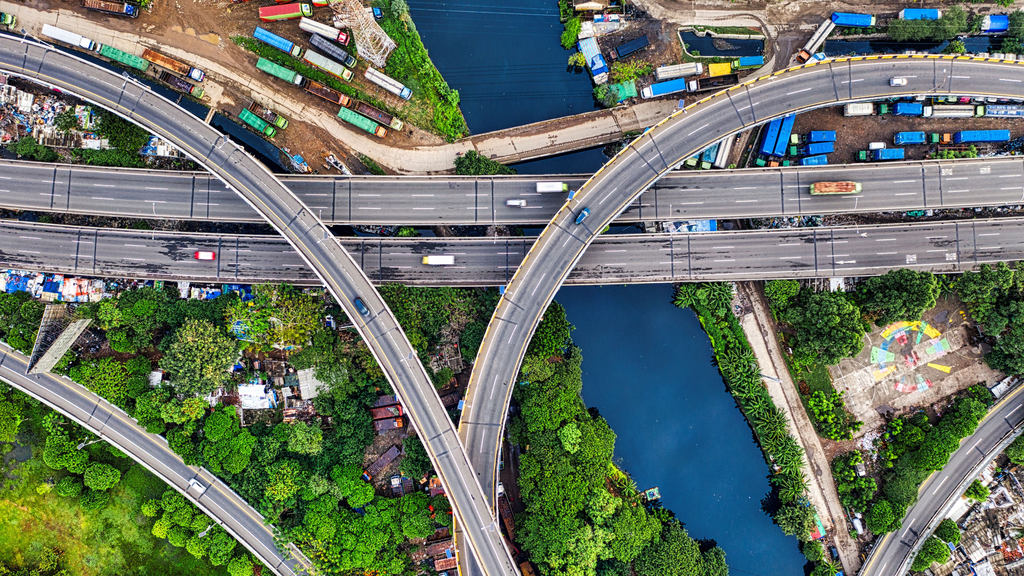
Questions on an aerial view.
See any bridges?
Yes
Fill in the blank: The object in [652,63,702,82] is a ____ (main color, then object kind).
white vehicle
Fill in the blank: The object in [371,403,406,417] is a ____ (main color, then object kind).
red vehicle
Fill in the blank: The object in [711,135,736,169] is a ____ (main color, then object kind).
white truck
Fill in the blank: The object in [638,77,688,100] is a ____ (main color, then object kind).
blue truck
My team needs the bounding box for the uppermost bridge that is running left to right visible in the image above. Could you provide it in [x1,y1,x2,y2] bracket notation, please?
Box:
[472,101,658,161]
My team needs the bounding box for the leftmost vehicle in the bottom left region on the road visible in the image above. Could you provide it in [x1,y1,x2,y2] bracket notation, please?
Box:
[188,477,207,494]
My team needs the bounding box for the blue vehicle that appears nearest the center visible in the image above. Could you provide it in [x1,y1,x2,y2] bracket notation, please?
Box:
[575,206,591,226]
